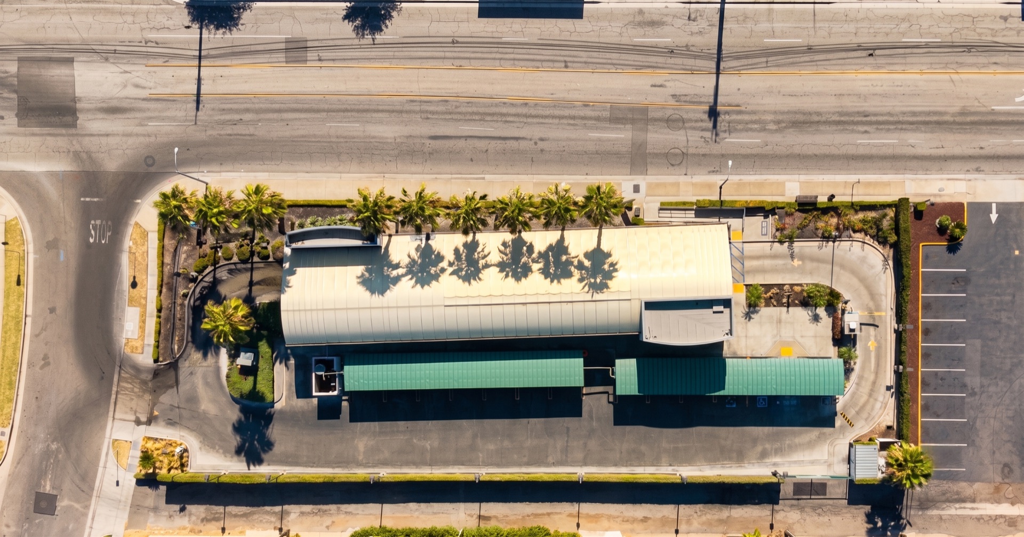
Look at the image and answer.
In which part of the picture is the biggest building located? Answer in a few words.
center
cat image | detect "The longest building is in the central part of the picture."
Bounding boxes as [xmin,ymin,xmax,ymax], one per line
[281,223,735,347]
